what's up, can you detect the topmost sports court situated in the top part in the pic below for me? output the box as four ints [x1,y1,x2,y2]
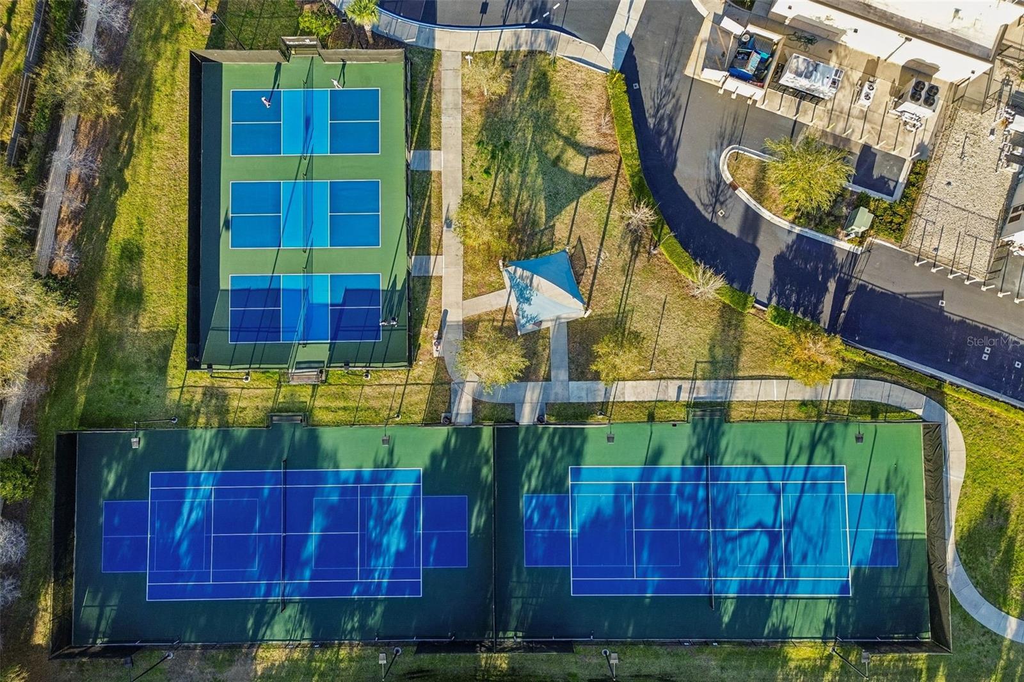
[203,56,406,167]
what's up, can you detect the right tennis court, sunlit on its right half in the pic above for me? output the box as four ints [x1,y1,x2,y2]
[494,410,929,640]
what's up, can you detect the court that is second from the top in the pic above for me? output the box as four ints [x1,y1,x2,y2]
[203,166,407,262]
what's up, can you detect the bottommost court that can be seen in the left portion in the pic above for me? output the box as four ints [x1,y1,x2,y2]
[74,415,494,643]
